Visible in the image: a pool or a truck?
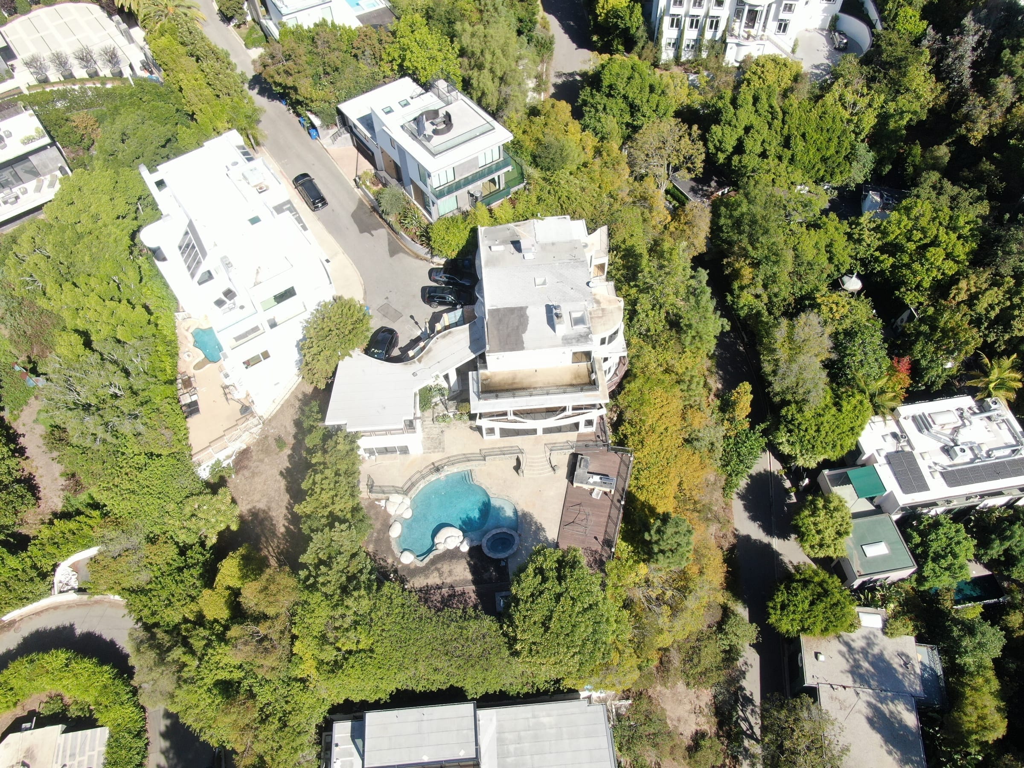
pool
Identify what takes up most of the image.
trees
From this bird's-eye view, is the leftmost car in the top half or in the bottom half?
top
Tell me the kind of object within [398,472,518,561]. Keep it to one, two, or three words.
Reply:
swimming pool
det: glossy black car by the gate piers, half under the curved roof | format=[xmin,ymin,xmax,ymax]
[362,320,402,361]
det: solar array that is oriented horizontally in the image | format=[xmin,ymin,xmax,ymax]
[942,460,1024,487]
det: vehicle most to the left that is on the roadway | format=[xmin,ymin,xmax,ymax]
[294,174,326,209]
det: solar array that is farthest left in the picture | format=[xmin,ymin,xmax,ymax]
[887,450,930,494]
